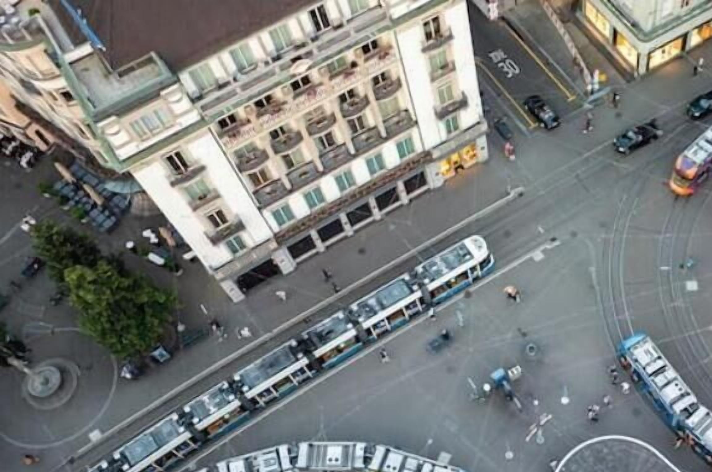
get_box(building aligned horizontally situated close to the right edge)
[559,0,712,76]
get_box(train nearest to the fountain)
[90,244,498,472]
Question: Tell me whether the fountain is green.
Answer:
No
